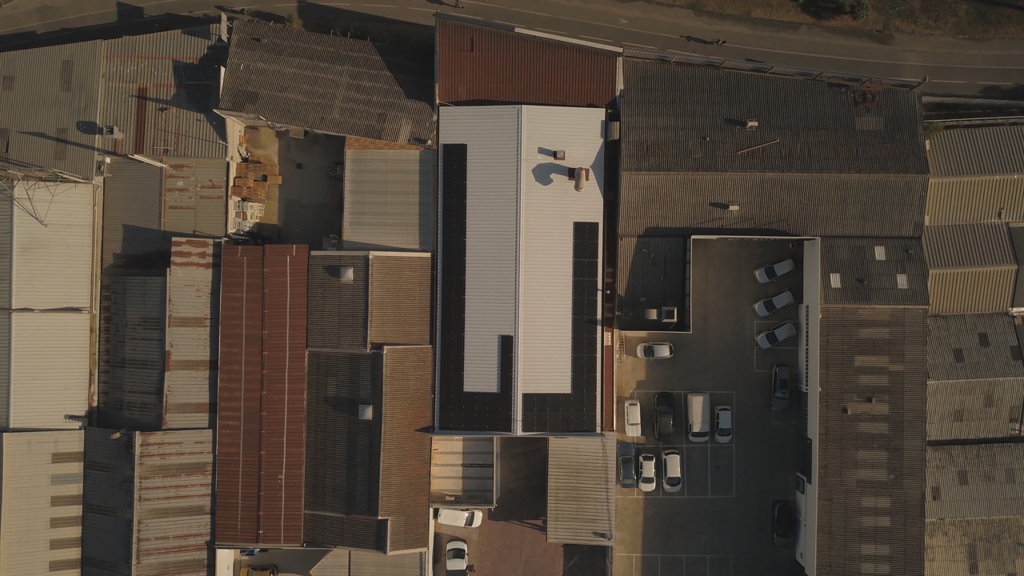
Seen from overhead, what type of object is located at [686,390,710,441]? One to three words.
vehicle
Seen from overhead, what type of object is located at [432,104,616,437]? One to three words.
warehouse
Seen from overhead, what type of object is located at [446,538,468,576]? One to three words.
truck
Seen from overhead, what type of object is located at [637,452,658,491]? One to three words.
car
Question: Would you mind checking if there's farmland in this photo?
No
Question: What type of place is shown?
industrial area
